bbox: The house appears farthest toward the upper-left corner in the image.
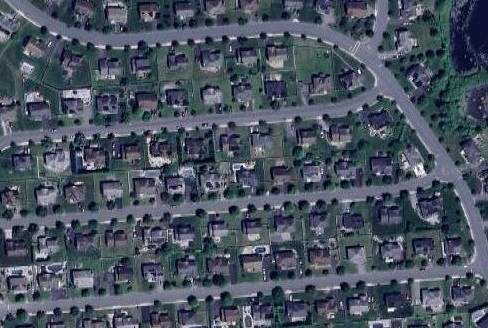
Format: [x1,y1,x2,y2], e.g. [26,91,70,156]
[0,10,22,35]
